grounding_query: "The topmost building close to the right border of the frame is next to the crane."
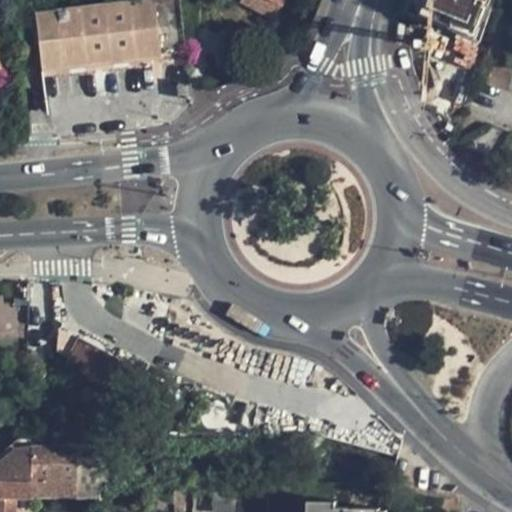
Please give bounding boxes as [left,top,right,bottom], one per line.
[430,0,492,38]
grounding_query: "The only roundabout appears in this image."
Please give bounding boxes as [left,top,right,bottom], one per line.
[170,83,426,364]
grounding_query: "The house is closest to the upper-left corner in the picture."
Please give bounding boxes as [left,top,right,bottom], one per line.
[35,0,162,74]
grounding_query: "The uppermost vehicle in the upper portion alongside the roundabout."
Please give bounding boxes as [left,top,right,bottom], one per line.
[306,40,328,72]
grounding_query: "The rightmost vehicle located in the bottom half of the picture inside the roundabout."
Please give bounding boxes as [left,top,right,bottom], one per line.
[288,314,310,333]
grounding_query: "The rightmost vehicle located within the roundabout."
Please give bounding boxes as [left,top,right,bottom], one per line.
[388,182,408,200]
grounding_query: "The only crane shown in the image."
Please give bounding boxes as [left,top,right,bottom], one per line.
[419,0,448,104]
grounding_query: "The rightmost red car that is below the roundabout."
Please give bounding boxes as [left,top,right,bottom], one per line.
[358,371,378,390]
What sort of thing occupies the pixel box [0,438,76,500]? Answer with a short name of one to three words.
house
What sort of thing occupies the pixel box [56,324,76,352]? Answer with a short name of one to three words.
shed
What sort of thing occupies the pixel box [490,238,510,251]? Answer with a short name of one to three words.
vehicle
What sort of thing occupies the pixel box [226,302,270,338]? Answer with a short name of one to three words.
truck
